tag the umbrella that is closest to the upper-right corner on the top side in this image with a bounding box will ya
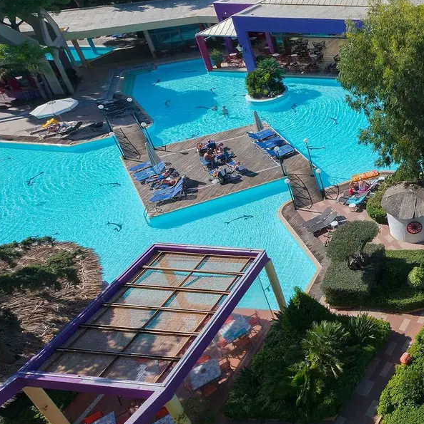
[249,97,263,131]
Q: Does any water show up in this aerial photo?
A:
Yes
